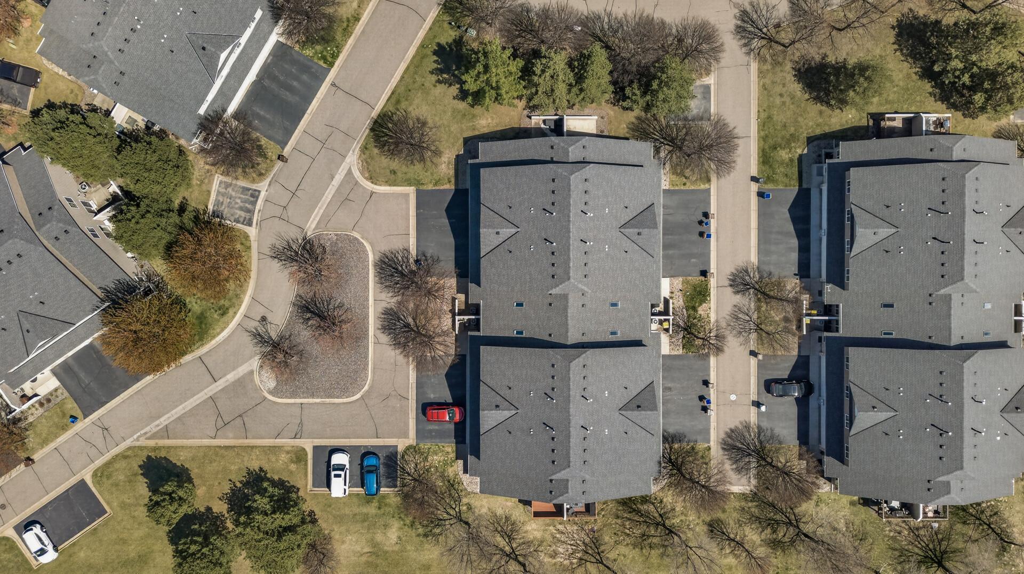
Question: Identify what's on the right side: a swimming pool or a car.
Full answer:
Looking on the right side, you will find a car.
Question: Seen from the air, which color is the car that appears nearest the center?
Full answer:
In this view, the car that appears nearest the center is red.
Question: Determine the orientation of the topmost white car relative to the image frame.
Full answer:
The topmost white car has been laid out from top to bottom relative to the frame.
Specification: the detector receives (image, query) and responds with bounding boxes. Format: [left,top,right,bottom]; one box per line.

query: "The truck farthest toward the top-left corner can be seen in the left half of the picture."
[0,65,40,92]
